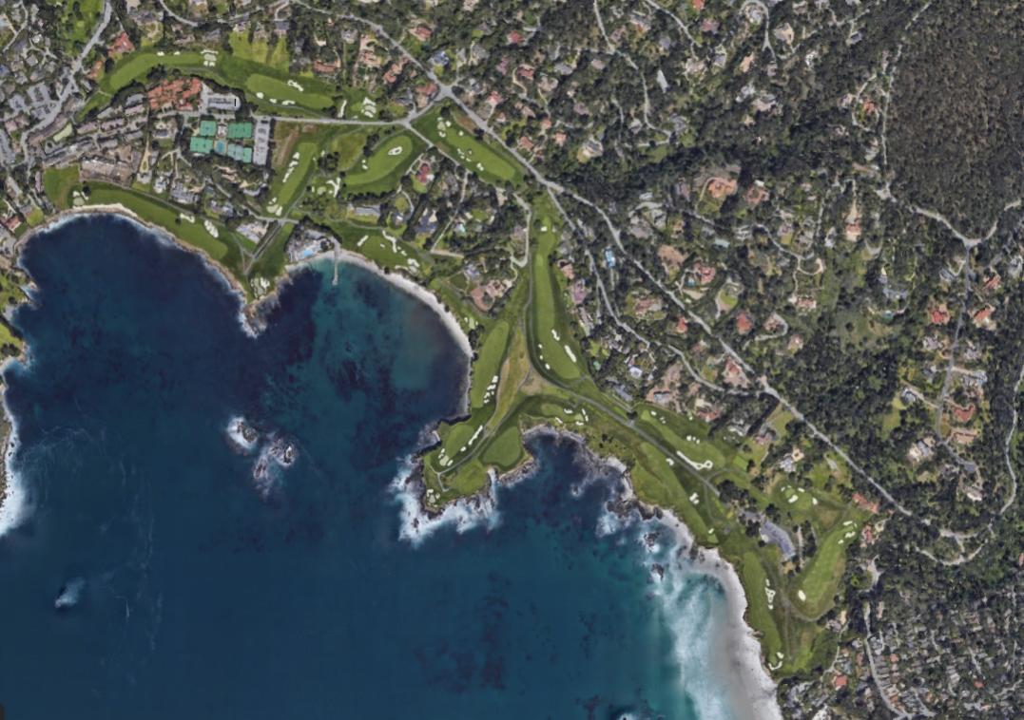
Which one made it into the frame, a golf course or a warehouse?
golf course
